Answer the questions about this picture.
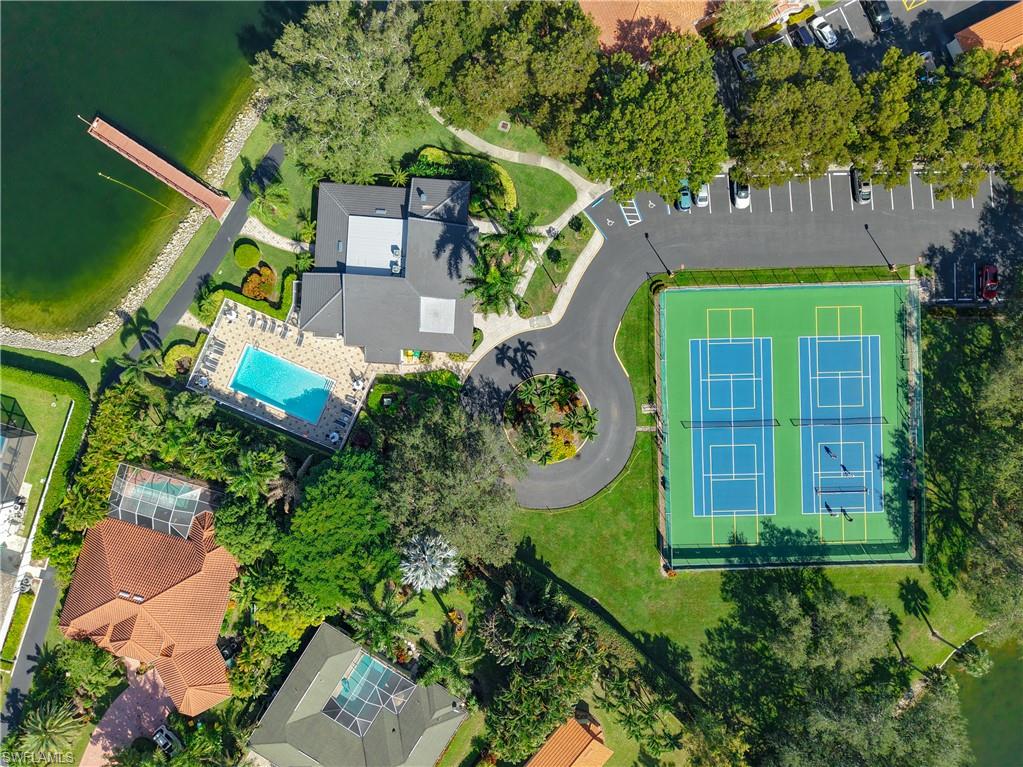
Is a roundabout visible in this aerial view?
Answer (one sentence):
Yes, there is a roundabout in the image.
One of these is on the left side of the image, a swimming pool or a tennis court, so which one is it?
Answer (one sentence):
The feature located on the left side of the image is a swimming pool.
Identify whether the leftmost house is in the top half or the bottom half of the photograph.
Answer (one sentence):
You can find the leftmost house in the bottom half.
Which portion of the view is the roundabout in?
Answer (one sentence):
The roundabout is located in the center region of the scene.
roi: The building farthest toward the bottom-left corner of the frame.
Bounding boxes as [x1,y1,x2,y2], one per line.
[59,511,240,717]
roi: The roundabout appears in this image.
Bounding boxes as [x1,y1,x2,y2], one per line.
[504,373,597,465]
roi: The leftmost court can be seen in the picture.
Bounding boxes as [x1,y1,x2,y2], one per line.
[660,287,790,565]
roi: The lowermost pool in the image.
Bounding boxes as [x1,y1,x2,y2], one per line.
[338,652,407,728]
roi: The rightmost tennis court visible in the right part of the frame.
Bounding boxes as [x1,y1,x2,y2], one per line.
[786,284,911,562]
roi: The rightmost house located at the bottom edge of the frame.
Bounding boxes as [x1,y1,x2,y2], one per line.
[521,708,613,767]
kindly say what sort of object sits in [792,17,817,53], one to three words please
car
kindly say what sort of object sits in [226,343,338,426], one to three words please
swimming pool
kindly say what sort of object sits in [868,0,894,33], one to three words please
car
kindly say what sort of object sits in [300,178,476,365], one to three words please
building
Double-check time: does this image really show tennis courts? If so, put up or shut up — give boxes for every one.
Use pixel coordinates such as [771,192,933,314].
[660,287,790,565]
[786,284,911,562]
